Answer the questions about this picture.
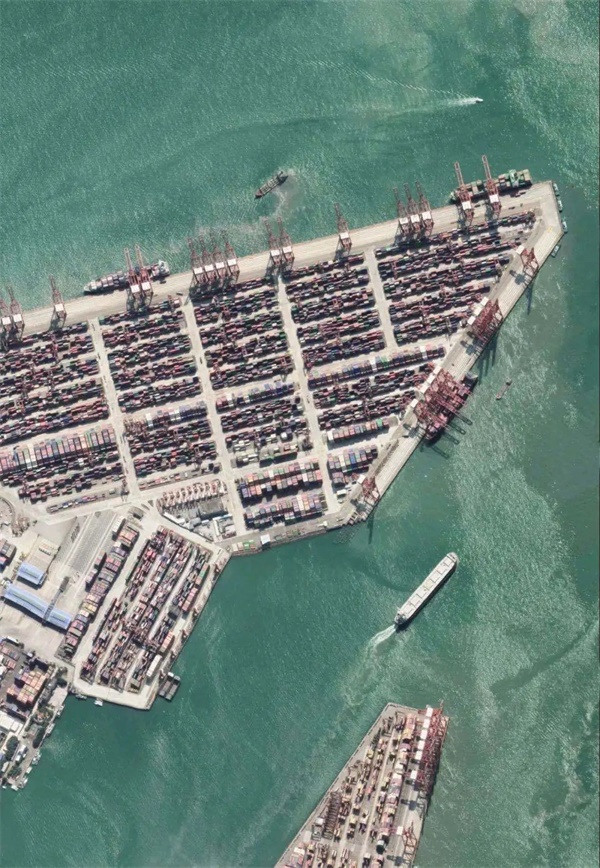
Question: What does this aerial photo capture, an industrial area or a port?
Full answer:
This looks like a port.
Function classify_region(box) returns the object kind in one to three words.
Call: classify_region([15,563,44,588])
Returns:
building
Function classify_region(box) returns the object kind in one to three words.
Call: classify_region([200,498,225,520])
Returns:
building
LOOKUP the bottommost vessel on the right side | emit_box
[395,553,456,630]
